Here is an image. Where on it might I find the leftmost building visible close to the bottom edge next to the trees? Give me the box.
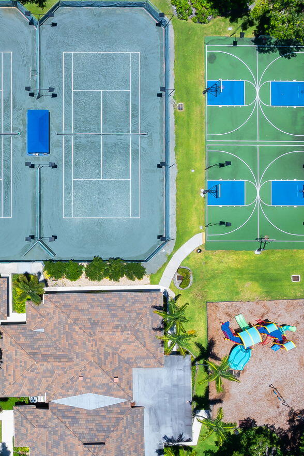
[0,293,192,456]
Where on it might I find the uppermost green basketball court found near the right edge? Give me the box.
[205,36,304,143]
